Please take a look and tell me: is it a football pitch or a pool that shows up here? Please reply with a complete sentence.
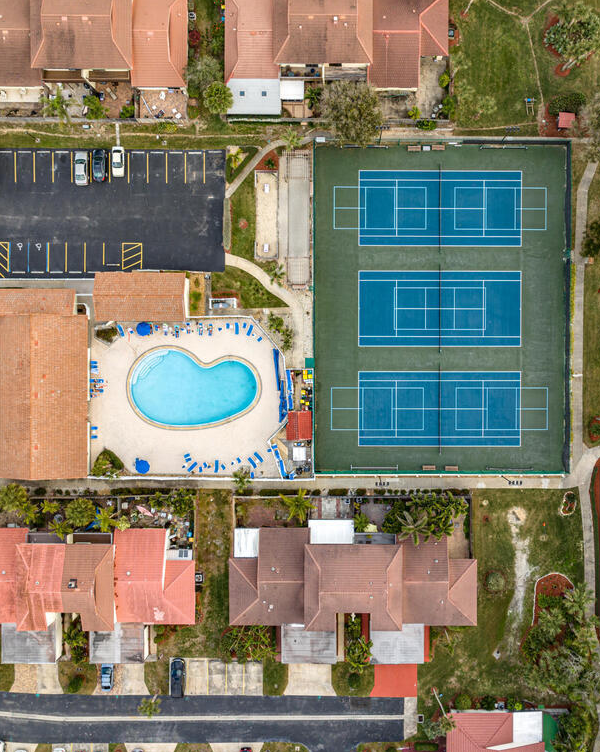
The image shows a pool.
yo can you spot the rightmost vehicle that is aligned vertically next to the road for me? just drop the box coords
[169,657,186,698]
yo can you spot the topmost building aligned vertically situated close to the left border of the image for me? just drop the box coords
[0,289,92,479]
